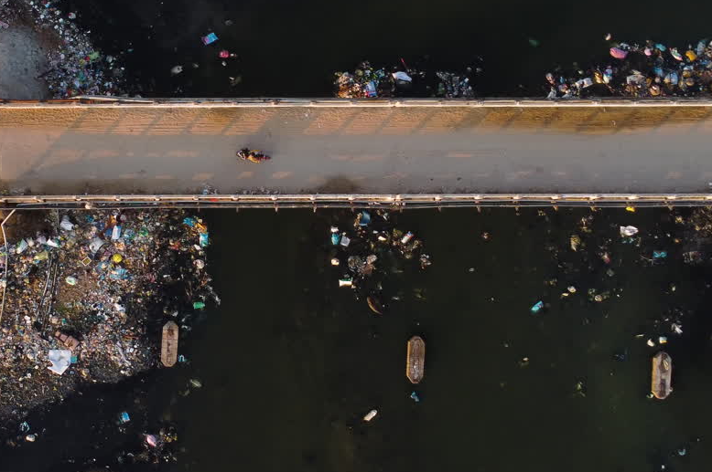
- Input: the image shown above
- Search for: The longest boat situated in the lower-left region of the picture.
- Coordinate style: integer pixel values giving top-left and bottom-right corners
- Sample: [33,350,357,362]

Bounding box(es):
[161,321,178,367]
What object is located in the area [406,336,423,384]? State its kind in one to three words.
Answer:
boat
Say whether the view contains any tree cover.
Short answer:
No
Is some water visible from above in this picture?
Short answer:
Yes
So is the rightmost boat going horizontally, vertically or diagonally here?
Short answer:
vertically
